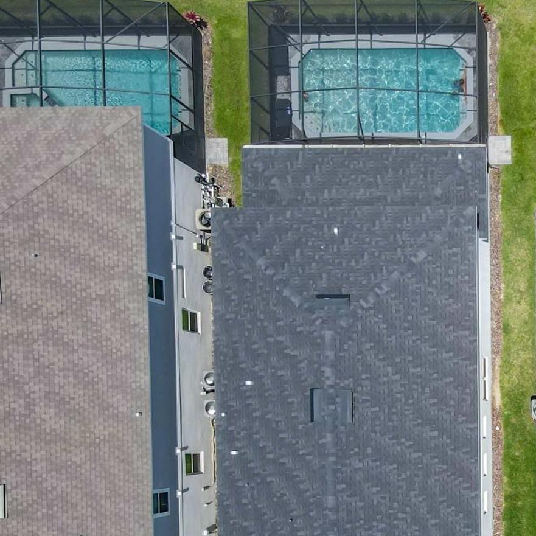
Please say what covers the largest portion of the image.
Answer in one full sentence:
What you mostly see from above here is buildings.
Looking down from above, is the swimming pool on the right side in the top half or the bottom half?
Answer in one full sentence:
Seen from above, the swimming pool on the right side lies in the top half of the view.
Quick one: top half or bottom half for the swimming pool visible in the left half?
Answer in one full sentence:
It is in the top half that the swimming pool visible in the left half appears.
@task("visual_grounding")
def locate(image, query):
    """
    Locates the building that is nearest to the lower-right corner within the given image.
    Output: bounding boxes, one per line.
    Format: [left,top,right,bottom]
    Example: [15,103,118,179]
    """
[212,143,491,536]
